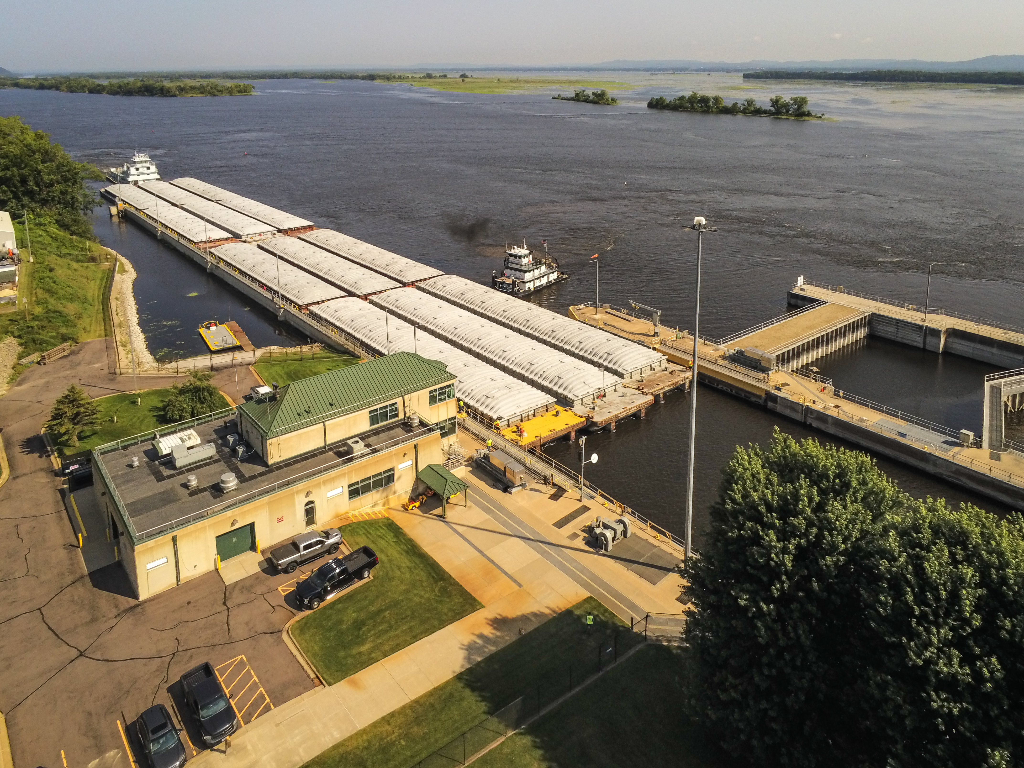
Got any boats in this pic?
Yes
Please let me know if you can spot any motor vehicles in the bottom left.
Yes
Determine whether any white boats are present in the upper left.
Yes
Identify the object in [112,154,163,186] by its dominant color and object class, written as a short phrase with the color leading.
white boat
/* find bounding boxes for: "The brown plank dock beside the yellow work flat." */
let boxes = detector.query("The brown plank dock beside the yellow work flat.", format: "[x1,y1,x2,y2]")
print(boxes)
[230,312,259,352]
